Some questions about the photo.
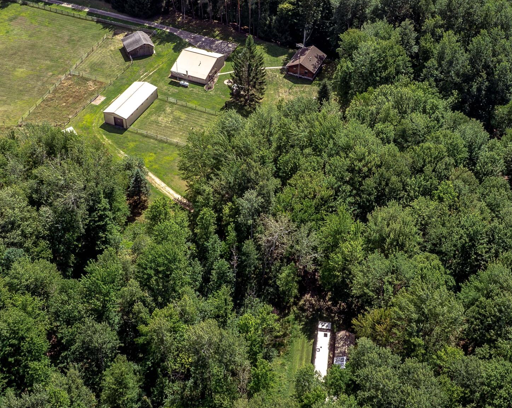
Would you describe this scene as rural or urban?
rural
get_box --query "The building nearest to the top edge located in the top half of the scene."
[122,31,154,58]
